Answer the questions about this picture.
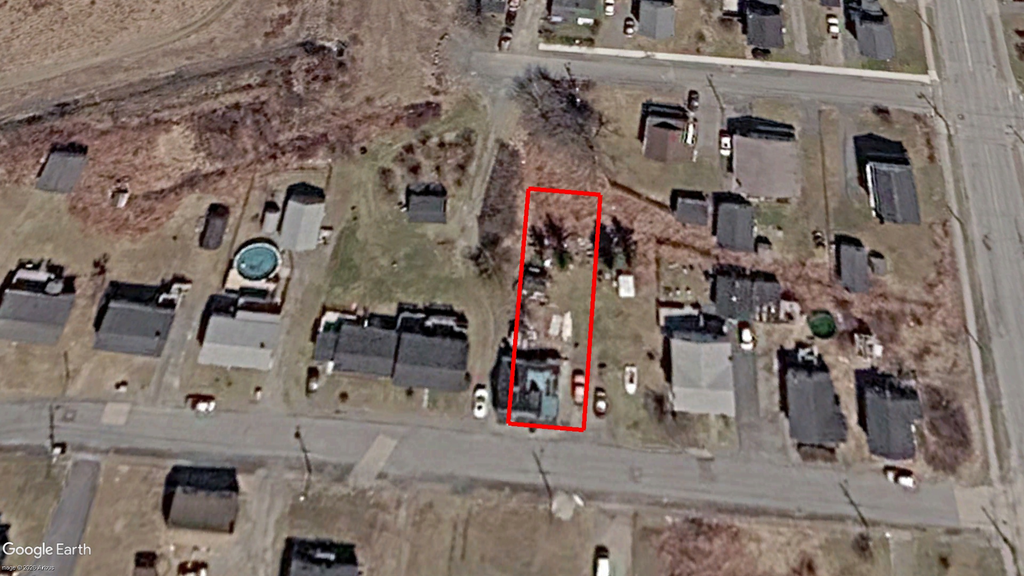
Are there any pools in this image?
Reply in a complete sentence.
Yes, there's a pool here.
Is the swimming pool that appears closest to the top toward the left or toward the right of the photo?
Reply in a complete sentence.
The swimming pool that appears closest to the top is on the left side of the image.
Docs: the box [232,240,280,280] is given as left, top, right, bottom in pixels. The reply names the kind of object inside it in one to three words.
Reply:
swimming pool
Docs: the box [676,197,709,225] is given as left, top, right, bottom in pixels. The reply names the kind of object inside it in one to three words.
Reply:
shed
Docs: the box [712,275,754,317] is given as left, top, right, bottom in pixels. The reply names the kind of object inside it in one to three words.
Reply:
building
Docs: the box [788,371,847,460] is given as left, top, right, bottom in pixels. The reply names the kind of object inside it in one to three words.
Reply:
house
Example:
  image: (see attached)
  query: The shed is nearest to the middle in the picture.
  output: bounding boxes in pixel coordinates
[524,267,545,291]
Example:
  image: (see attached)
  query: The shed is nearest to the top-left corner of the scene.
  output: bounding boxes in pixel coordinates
[36,151,87,192]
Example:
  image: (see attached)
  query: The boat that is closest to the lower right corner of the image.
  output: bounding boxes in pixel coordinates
[625,363,637,394]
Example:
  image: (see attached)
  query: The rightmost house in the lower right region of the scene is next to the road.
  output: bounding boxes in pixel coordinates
[867,387,919,459]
